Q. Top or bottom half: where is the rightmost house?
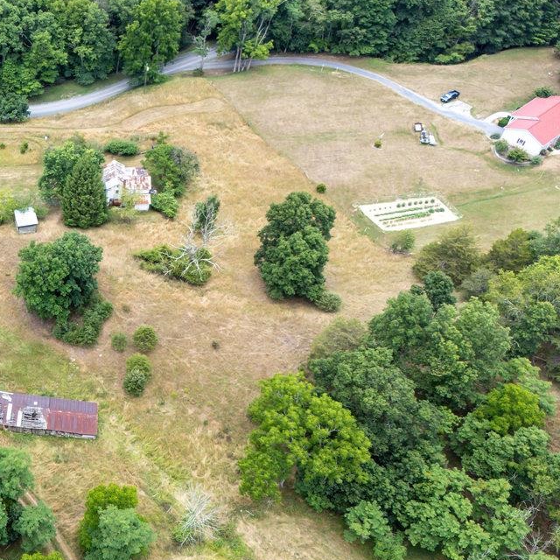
top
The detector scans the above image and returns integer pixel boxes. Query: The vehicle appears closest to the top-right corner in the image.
[443,90,462,102]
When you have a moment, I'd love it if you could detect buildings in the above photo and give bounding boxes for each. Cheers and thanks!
[107,162,165,210]
[12,207,38,234]
[500,102,560,154]
[0,390,101,444]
